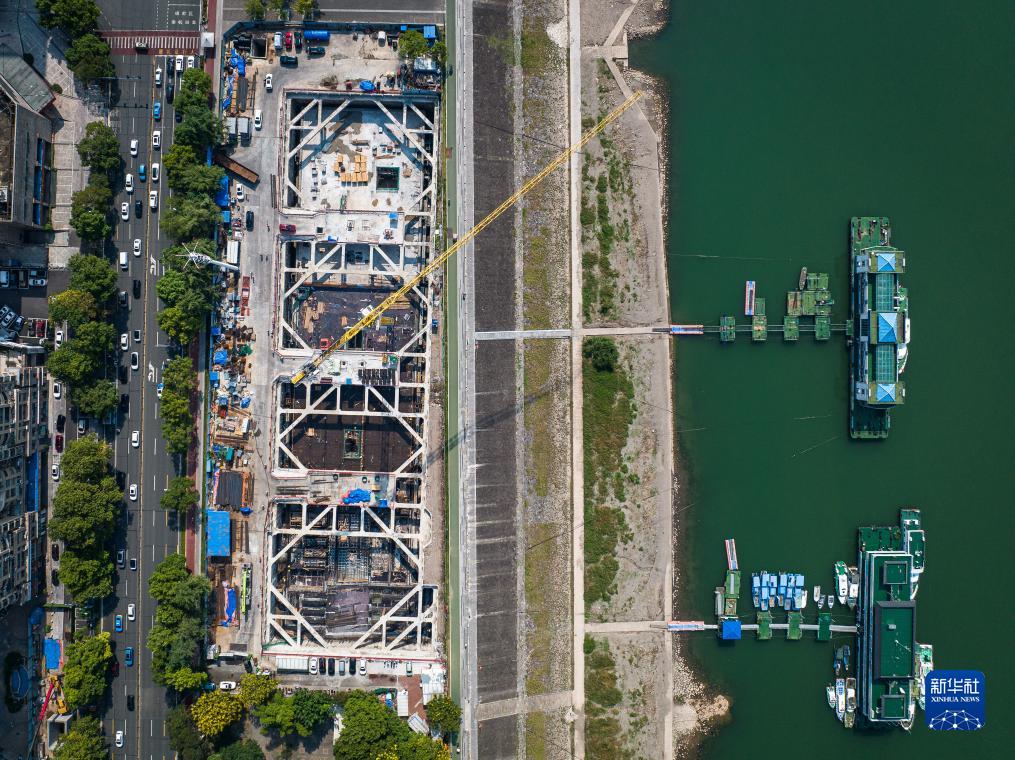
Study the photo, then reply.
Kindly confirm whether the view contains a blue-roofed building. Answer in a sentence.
Yes, the photo shows a blue-roofed building.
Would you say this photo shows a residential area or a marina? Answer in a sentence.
What you see here is a marina.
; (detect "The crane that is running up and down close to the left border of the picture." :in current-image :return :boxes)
[40,675,71,760]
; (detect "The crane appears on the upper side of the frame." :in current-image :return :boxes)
[283,91,641,388]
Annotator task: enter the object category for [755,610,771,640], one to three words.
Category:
pier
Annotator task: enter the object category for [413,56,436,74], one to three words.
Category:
shed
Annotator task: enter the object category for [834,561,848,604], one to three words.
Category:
boat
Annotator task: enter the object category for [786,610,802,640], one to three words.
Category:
pier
